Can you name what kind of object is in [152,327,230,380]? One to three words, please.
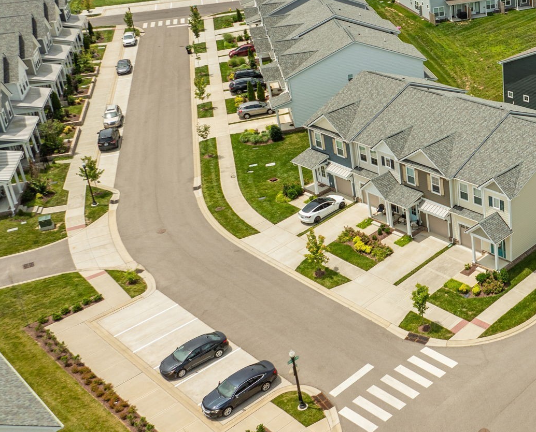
car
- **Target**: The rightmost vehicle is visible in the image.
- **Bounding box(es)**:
[294,194,345,223]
